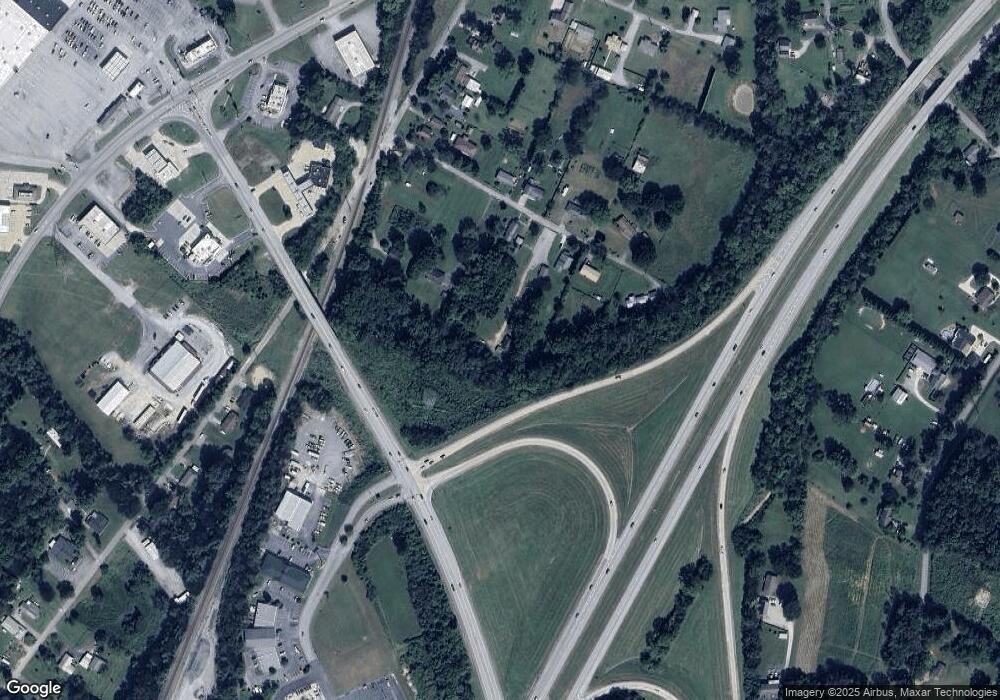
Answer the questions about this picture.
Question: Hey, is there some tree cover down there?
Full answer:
Yes, there is tree cover in the image.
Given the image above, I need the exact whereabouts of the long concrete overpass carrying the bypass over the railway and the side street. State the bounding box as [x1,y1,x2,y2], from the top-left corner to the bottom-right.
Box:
[279,266,334,339]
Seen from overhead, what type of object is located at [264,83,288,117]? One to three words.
building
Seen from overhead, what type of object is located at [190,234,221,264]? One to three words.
building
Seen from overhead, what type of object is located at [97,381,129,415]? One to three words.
barn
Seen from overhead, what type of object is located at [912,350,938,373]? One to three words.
house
